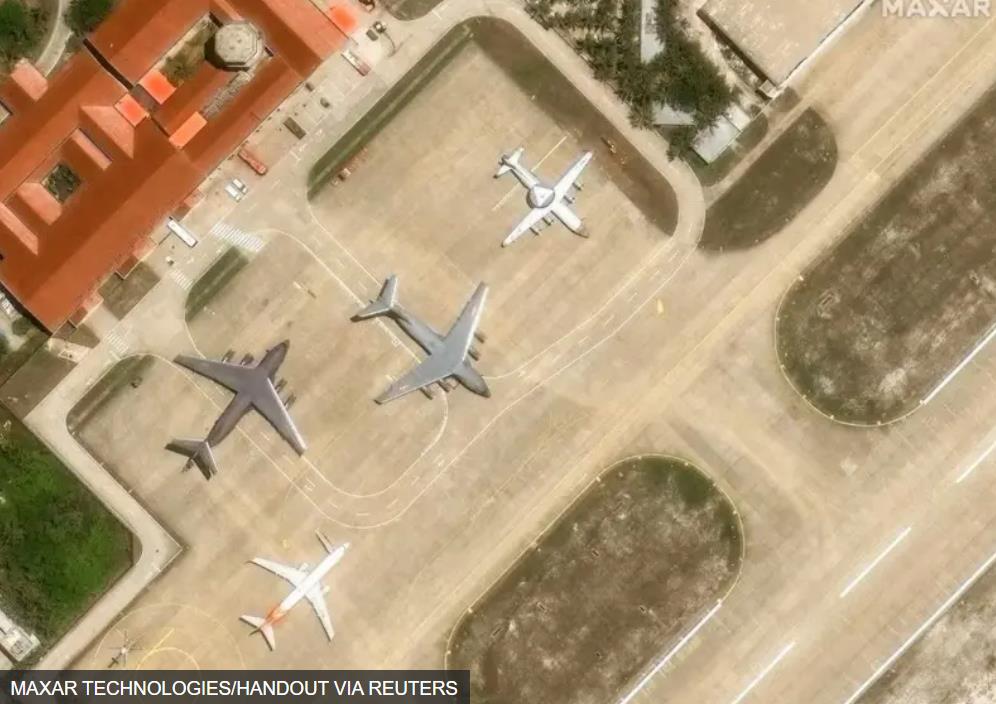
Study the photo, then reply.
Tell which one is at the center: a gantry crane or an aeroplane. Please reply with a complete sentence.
Looking at the center, you will find an aeroplane.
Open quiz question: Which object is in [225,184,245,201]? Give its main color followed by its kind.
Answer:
white vehicle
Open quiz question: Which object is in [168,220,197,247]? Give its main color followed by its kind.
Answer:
white bus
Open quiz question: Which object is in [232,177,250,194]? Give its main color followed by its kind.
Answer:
white vehicle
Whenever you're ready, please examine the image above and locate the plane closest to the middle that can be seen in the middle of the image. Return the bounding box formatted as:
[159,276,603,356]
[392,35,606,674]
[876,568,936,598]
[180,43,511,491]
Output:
[351,269,489,400]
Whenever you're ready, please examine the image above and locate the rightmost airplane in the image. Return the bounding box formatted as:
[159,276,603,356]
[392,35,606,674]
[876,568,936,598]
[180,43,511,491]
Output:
[493,146,589,246]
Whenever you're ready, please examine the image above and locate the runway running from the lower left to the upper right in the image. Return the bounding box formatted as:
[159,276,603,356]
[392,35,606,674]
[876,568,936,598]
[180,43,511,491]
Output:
[623,331,996,704]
